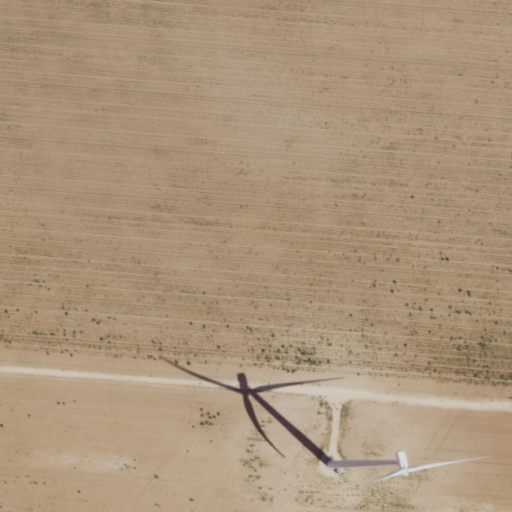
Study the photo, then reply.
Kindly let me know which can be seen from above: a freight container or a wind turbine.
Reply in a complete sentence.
The one in the frame is a wind turbine.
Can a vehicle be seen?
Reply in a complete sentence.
No, no vehicle is visible in the scene.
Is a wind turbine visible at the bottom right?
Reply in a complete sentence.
Yes, there is a wind turbine at the bottom right.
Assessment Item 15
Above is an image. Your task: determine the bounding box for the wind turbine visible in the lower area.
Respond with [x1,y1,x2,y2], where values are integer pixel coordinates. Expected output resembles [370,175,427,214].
[325,451,498,490]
